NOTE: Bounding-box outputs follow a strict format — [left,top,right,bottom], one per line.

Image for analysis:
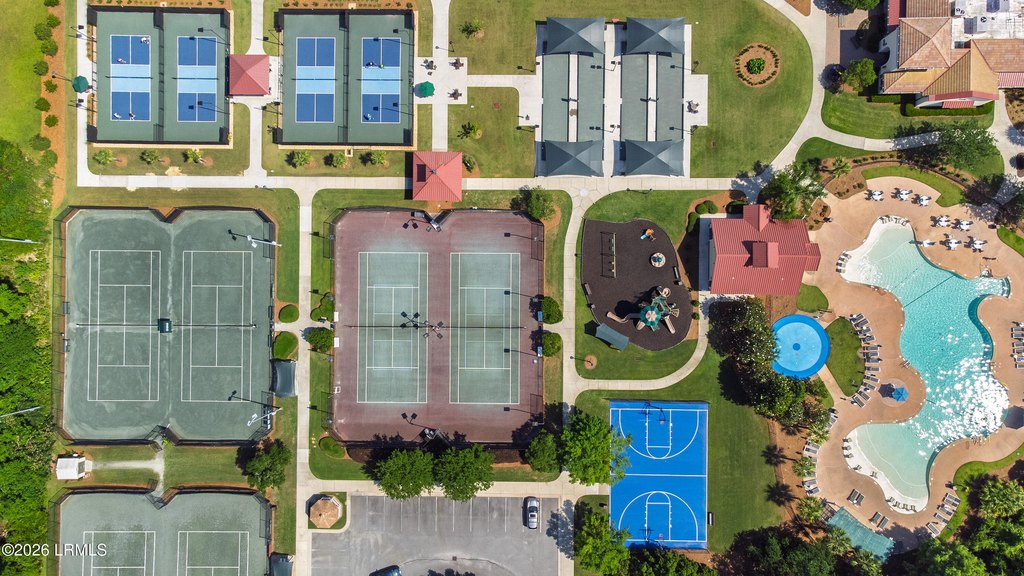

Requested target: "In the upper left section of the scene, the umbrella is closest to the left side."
[72,75,92,94]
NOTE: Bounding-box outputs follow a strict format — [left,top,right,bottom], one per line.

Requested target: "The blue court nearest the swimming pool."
[610,401,708,550]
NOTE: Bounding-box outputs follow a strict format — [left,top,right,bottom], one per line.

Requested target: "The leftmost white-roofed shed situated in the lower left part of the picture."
[54,455,94,479]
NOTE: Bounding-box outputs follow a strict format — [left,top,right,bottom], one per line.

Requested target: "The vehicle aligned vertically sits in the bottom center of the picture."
[524,499,538,529]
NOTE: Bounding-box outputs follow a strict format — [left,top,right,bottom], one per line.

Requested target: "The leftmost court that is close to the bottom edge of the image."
[60,494,163,576]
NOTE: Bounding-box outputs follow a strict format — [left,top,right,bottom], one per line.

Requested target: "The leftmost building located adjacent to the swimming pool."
[708,203,821,294]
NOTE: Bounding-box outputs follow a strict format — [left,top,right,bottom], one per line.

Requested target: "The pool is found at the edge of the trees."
[838,213,1014,516]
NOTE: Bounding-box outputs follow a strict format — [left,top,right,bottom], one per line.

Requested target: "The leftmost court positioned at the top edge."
[97,12,162,140]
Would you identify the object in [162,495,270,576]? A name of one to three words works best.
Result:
tennis court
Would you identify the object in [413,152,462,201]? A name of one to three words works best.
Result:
building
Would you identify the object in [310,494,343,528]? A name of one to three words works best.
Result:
gazebo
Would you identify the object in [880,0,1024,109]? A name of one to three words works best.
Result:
building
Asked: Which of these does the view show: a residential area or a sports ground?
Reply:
sports ground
